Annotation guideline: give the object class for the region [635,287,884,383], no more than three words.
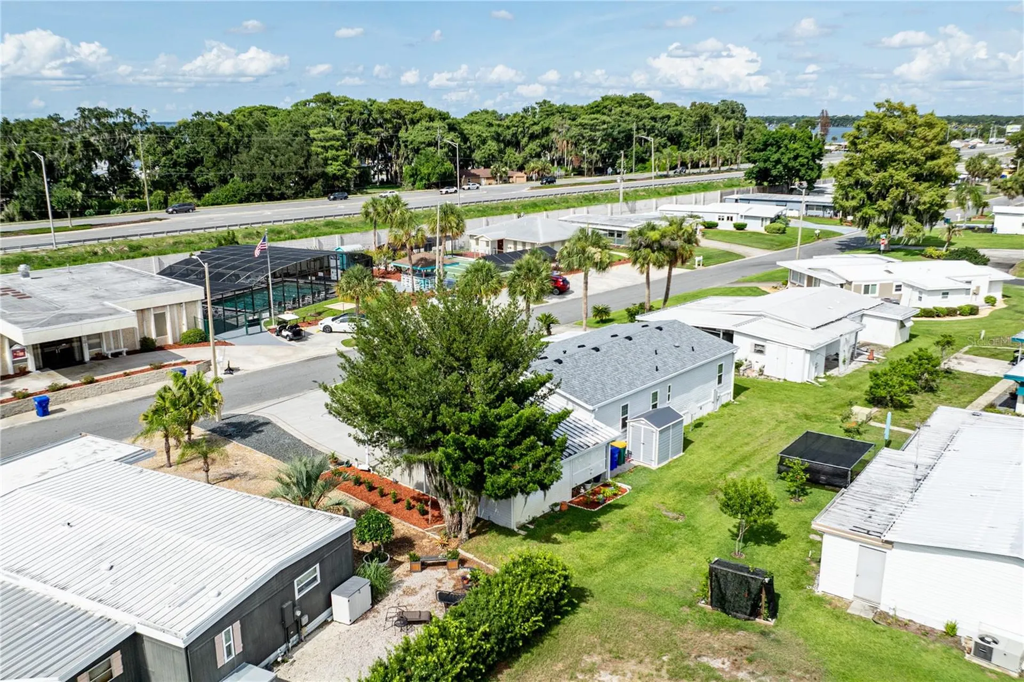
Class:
house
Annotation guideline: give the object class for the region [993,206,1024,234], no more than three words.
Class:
house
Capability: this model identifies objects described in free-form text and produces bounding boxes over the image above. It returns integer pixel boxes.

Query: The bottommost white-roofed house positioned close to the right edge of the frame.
[807,403,1024,634]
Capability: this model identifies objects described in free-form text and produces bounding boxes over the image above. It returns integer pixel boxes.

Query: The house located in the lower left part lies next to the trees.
[0,419,361,682]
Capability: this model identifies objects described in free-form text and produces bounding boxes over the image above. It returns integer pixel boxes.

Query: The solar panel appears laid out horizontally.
[480,248,558,273]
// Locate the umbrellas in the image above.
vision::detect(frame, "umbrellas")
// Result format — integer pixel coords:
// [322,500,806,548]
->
[324,302,368,312]
[882,412,893,447]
